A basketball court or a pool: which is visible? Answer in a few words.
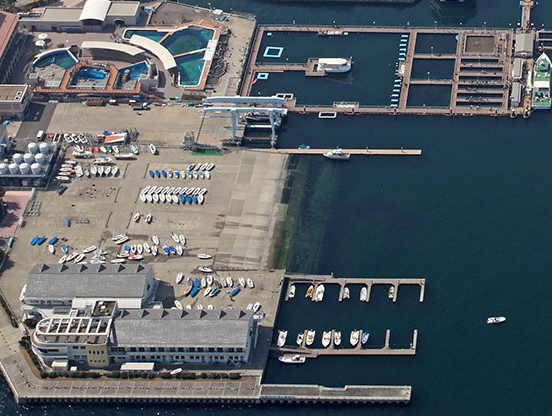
pool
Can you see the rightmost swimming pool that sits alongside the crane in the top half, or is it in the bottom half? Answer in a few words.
top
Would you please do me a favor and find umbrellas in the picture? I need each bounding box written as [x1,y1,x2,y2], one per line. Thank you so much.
[35,31,48,40]
[33,38,45,50]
